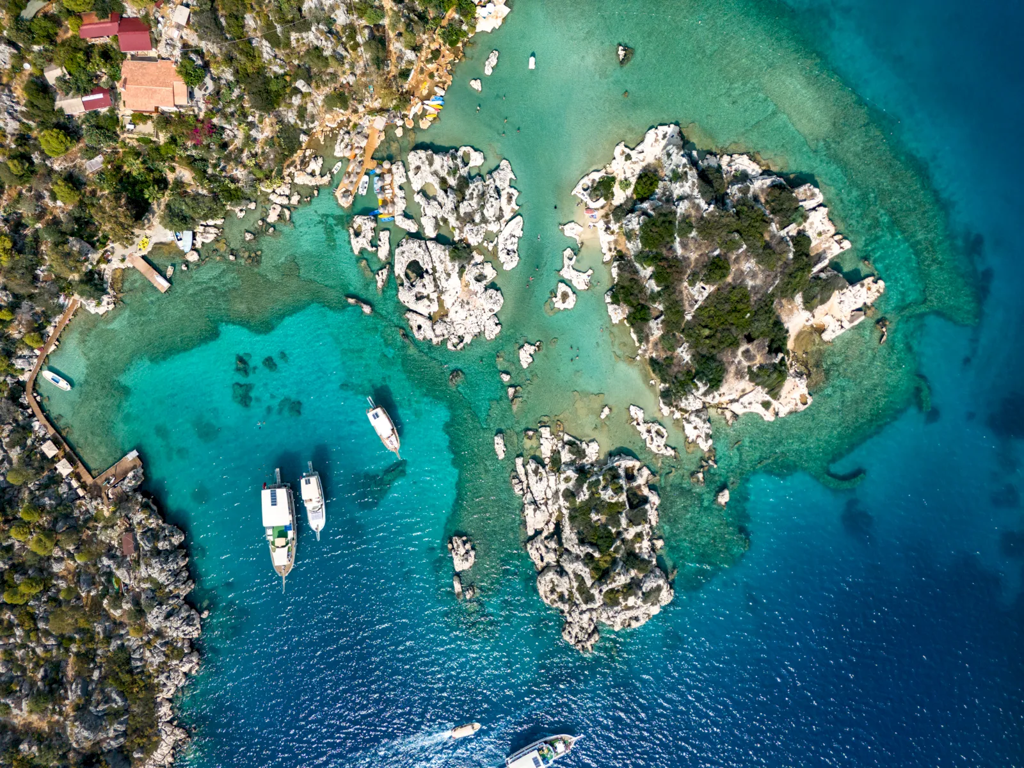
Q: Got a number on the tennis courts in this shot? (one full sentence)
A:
No tennis courts are visible.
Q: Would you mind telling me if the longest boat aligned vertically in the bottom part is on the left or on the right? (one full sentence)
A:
The longest boat aligned vertically in the bottom part appears in the left half of the scene.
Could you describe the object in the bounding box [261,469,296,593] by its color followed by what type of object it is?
white boat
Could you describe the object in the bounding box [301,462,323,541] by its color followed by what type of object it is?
white boat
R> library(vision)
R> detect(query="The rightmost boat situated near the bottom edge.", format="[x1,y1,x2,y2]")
[506,734,584,768]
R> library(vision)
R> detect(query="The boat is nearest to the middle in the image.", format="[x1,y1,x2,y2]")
[366,397,401,459]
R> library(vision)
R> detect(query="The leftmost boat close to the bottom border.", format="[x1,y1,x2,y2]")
[450,722,482,740]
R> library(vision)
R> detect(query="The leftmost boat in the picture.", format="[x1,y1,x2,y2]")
[40,371,72,393]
